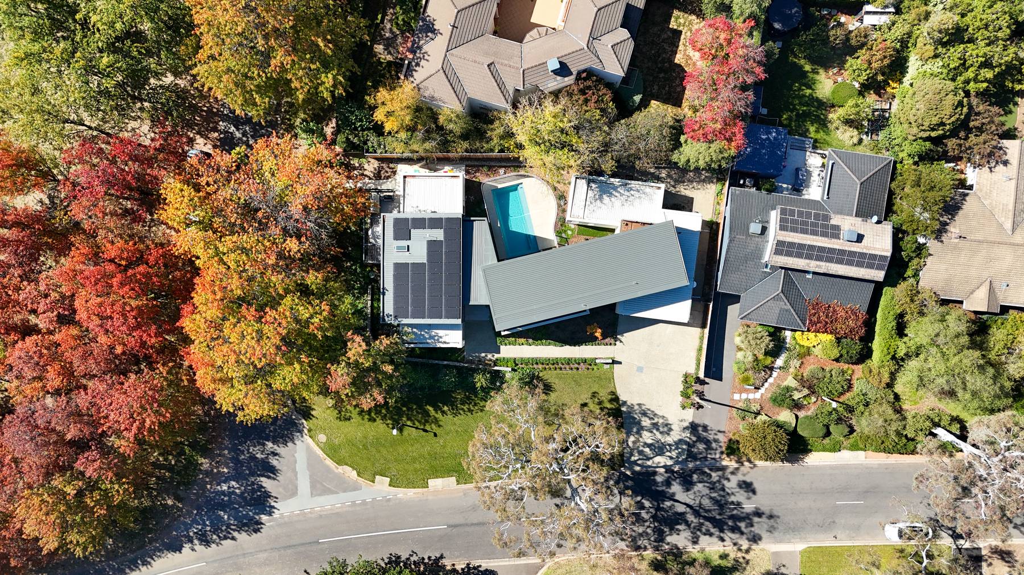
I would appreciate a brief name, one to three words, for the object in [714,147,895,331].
house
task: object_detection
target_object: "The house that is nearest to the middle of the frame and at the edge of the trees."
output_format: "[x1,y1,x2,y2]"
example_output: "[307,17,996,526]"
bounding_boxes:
[381,171,702,347]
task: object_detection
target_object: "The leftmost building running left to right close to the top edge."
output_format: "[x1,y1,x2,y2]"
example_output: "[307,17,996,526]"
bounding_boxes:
[400,0,646,115]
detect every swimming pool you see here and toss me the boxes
[482,173,556,260]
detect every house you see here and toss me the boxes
[714,147,895,331]
[381,171,702,347]
[918,140,1024,313]
[400,0,646,115]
